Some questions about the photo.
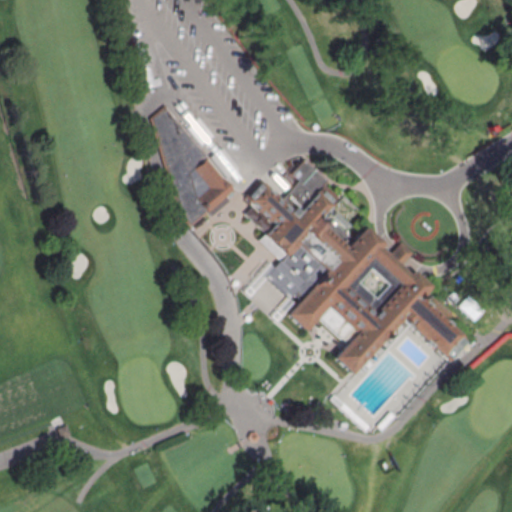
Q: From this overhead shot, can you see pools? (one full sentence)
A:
Yes, this view includes a pool.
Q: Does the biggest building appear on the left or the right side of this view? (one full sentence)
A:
The biggest building appears in the right half of the scene.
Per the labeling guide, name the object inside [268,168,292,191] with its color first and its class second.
white truck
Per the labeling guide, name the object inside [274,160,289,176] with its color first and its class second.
white vehicle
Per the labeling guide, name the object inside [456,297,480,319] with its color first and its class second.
white tent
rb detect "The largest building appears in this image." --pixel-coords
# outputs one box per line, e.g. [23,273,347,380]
[246,163,474,374]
